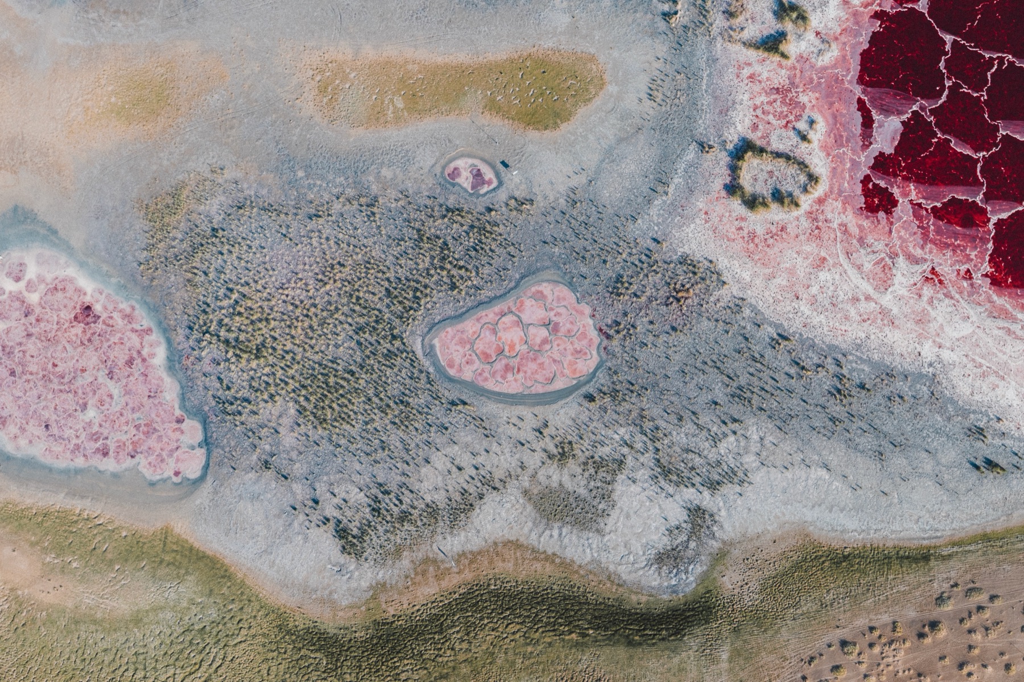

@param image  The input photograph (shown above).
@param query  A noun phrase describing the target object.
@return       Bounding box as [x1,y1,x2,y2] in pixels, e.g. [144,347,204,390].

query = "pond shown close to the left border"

[0,249,205,482]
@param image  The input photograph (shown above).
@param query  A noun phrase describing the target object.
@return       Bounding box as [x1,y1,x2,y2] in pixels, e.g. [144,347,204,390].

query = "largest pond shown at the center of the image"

[426,275,603,404]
